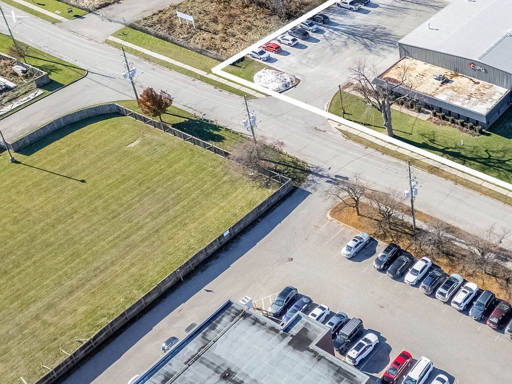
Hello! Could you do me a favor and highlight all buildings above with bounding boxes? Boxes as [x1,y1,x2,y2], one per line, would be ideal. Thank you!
[375,0,512,129]
[135,299,373,384]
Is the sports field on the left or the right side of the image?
left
